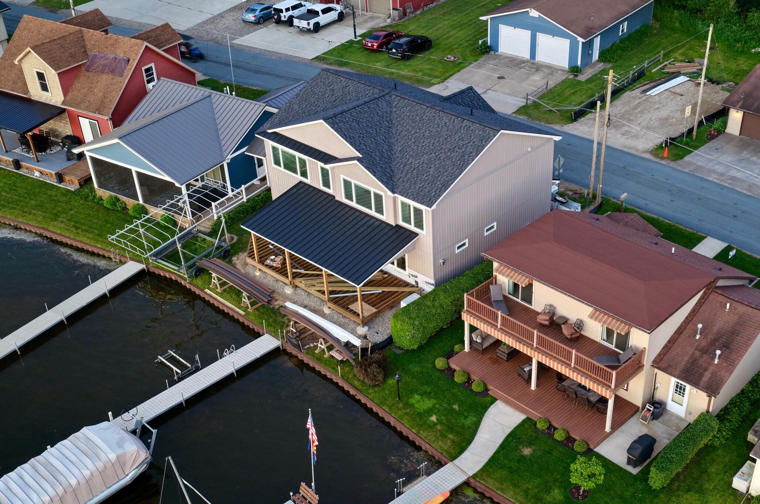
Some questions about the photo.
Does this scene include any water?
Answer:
Yes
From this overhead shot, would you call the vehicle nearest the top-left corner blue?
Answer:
Yes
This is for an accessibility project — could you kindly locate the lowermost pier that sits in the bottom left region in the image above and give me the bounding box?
[100,324,283,433]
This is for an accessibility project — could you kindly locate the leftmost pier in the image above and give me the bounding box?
[0,253,144,362]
